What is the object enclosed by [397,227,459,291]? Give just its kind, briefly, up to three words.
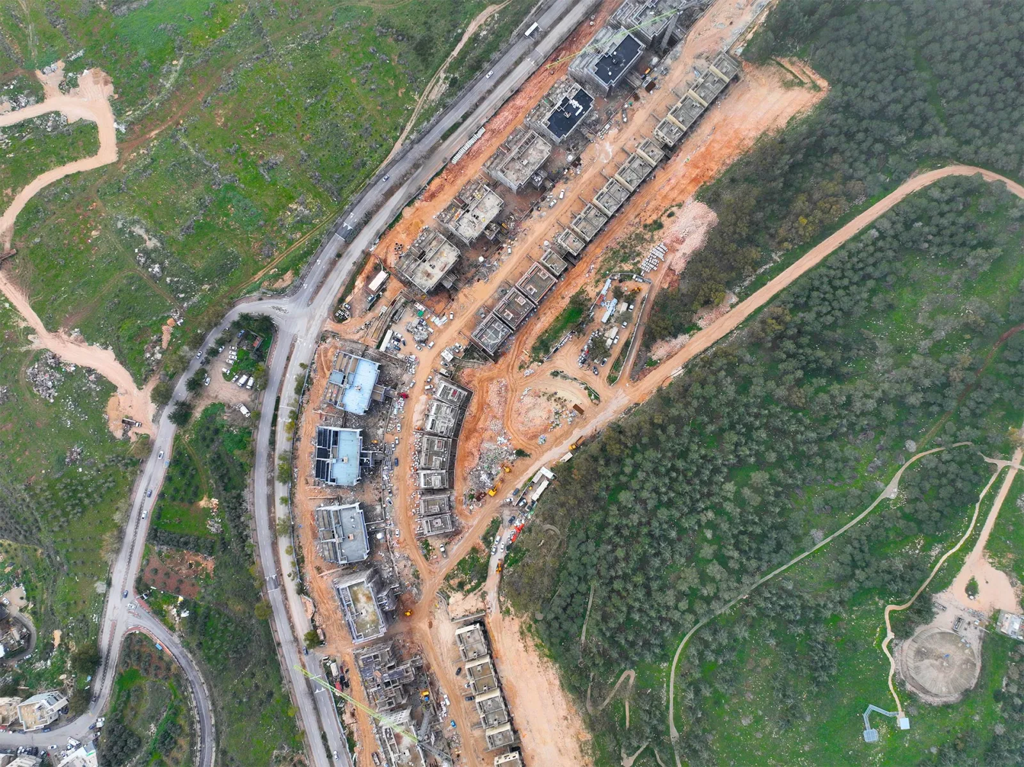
building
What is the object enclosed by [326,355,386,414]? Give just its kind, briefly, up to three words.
building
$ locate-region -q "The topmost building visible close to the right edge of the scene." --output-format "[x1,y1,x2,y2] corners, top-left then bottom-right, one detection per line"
[994,610,1024,638]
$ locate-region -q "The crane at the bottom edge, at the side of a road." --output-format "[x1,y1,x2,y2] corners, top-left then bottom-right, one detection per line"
[294,665,453,762]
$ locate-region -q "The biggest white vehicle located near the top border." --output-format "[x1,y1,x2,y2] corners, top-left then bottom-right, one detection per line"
[525,21,539,37]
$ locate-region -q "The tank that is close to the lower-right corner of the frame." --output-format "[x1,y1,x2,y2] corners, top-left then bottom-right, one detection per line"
[907,629,975,696]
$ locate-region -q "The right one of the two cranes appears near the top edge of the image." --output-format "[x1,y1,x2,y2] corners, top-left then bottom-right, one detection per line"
[547,0,705,68]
